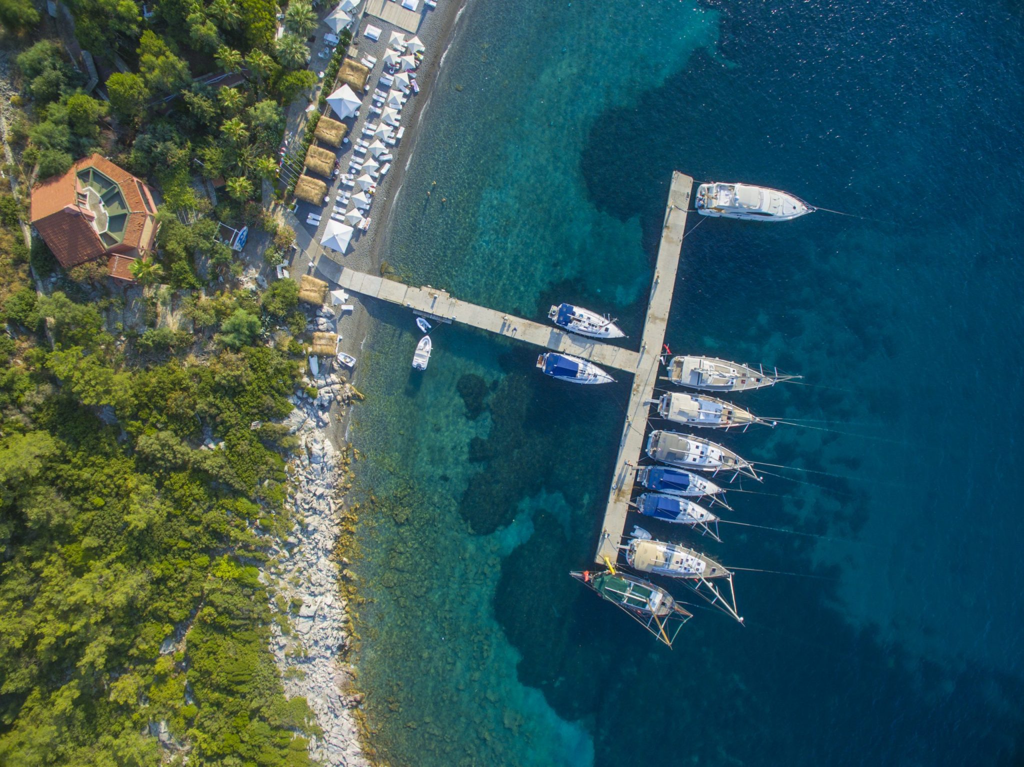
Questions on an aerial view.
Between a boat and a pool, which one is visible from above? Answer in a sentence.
The image shows a boat.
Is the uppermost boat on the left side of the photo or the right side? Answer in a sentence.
It is on the right.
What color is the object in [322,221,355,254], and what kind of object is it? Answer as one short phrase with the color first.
white umbrella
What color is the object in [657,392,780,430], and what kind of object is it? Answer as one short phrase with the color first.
white boat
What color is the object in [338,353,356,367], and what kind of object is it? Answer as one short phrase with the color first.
white boat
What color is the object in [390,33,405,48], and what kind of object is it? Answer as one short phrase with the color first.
white umbrella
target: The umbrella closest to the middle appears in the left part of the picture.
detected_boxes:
[332,290,347,305]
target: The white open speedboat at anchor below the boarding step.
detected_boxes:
[414,336,433,373]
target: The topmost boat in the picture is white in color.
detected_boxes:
[692,185,819,226]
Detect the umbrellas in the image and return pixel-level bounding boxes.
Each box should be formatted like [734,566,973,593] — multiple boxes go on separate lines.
[390,33,405,48]
[383,107,398,123]
[389,90,404,106]
[407,37,425,55]
[358,174,375,192]
[376,124,393,141]
[384,50,400,67]
[332,290,347,305]
[335,0,361,16]
[327,11,352,36]
[328,87,364,122]
[369,140,388,158]
[346,208,364,227]
[402,56,417,72]
[396,74,411,89]
[363,159,380,177]
[352,192,369,209]
[322,221,355,254]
